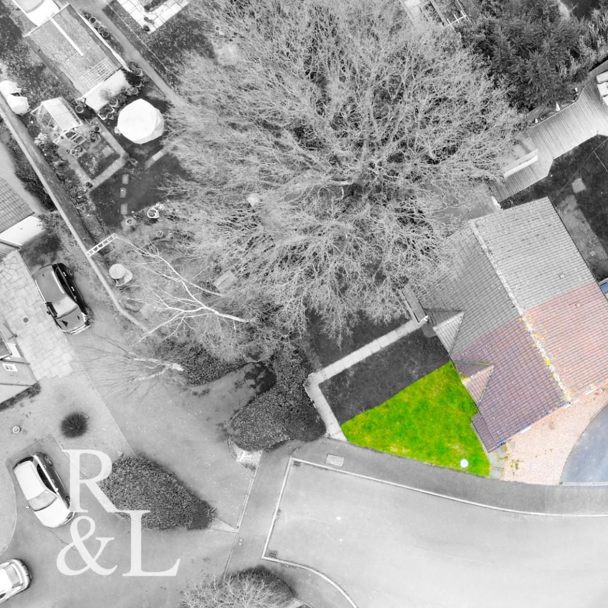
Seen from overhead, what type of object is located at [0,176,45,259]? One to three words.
building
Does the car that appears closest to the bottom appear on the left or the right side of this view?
left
